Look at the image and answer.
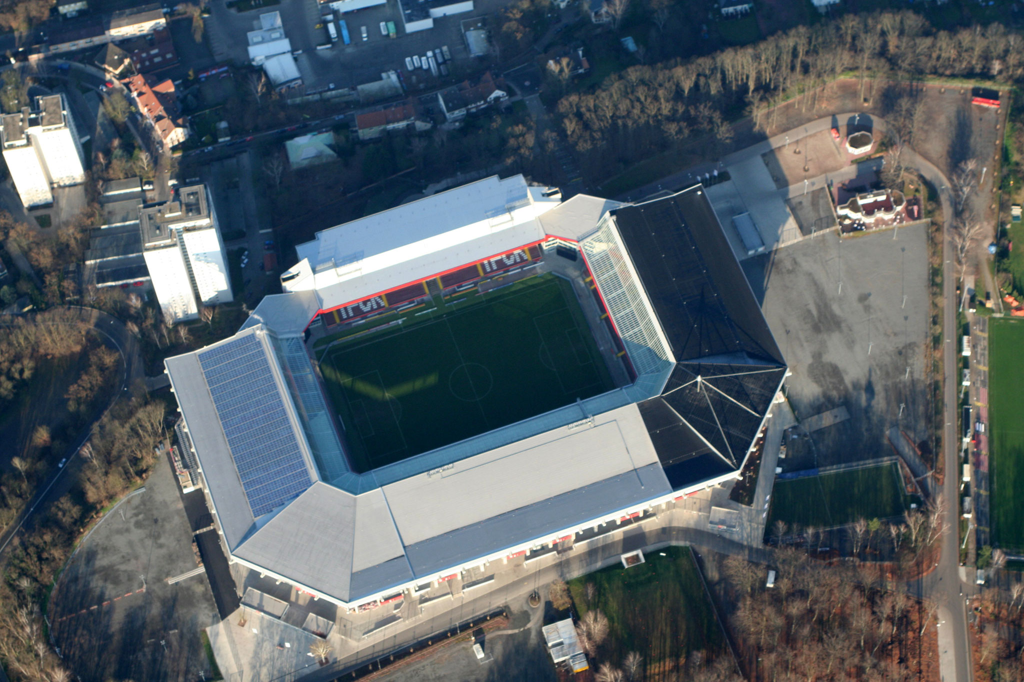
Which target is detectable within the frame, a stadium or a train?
stadium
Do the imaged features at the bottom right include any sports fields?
Yes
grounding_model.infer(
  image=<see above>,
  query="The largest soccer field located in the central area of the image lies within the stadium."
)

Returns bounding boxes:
[318,271,616,472]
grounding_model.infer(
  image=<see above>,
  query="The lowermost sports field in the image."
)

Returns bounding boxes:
[764,456,912,547]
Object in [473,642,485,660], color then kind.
white vehicle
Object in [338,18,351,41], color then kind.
blue vehicle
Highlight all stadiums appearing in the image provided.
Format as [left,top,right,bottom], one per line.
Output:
[164,169,790,608]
